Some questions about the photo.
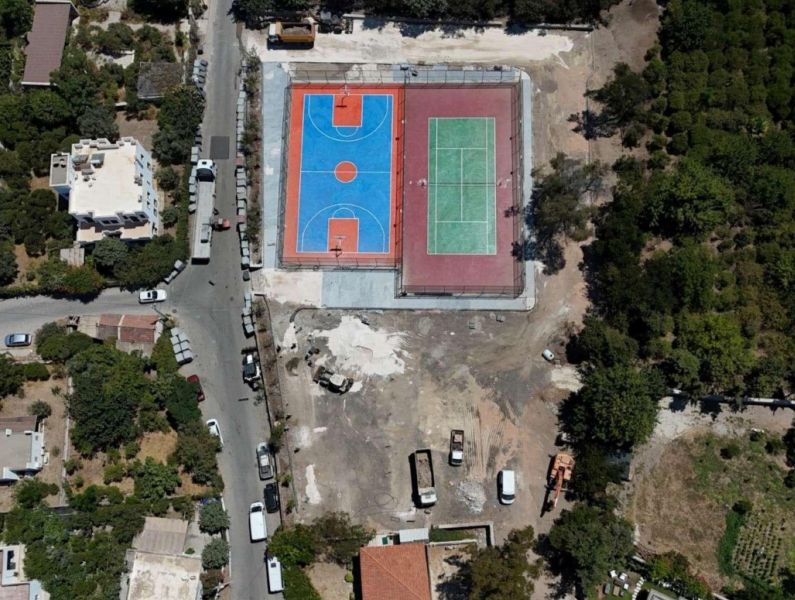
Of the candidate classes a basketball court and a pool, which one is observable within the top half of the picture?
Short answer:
basketball court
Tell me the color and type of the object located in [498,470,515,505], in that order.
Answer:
white vehicle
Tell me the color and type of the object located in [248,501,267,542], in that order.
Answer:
white vehicle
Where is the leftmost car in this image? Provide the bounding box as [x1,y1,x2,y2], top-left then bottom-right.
[5,335,33,348]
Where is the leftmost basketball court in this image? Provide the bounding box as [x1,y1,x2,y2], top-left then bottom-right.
[281,82,404,265]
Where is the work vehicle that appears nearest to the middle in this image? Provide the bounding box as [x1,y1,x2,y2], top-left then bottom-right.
[313,366,351,394]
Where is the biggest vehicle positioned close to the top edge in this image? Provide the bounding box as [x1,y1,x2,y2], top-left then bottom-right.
[267,23,316,45]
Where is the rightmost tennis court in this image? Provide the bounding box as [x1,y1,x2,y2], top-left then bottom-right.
[402,82,524,292]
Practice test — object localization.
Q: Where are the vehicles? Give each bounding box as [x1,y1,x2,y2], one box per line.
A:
[540,453,581,516]
[263,553,283,596]
[212,217,229,229]
[263,482,280,513]
[267,23,316,45]
[193,374,207,404]
[193,156,214,262]
[140,289,168,303]
[206,418,227,449]
[241,349,262,387]
[5,335,33,348]
[450,429,464,466]
[414,447,439,508]
[498,470,515,505]
[313,366,351,394]
[256,442,275,481]
[248,501,267,542]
